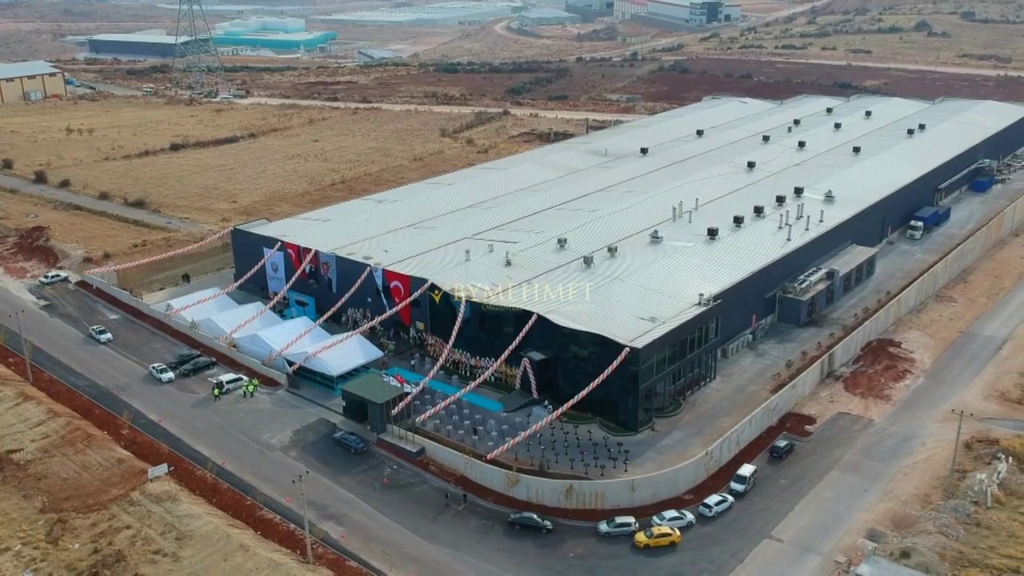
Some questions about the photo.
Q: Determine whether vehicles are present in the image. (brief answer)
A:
Yes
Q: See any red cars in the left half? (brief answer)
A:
No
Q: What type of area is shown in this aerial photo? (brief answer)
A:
industrial area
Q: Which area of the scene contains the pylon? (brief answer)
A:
top left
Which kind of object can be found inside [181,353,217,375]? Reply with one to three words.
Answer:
car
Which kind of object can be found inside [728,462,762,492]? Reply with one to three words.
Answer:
vehicle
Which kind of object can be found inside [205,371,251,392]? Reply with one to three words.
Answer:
vehicle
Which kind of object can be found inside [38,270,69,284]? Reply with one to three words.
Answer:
car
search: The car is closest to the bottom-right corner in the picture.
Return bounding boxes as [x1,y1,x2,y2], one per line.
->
[766,440,799,460]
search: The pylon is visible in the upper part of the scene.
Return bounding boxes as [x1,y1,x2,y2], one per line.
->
[158,0,238,94]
